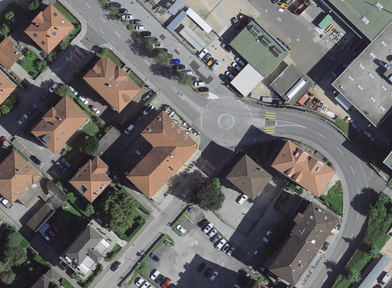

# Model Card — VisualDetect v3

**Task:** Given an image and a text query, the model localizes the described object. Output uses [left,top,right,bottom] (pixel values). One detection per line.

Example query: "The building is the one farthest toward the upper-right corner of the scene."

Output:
[328,0,392,42]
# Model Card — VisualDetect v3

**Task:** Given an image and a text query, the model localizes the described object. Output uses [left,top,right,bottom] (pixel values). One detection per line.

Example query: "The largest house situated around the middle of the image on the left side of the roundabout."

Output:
[127,110,198,198]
